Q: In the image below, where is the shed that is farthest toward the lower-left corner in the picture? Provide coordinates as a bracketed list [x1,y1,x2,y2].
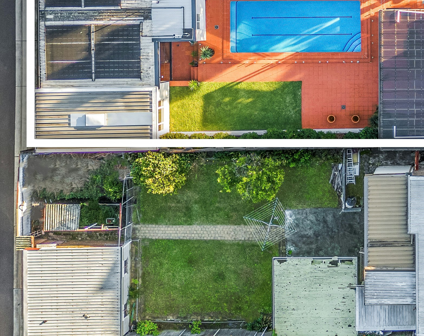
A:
[23,240,131,336]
